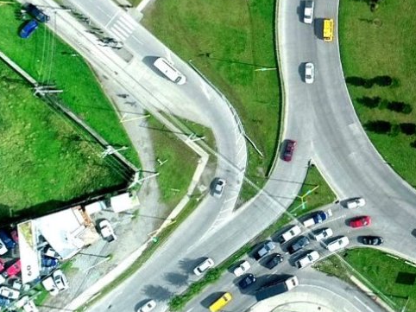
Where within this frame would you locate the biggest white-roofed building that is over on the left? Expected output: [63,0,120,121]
[34,208,93,261]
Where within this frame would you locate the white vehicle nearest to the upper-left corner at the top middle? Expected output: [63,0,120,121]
[149,56,189,86]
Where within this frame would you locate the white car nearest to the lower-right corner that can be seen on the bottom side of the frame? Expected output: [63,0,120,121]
[326,235,351,254]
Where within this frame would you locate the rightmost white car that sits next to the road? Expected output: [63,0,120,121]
[345,197,367,210]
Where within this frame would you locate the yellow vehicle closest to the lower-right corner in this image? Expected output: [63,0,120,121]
[206,293,233,312]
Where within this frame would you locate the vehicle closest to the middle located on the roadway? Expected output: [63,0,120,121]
[212,177,226,197]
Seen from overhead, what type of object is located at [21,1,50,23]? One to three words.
truck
